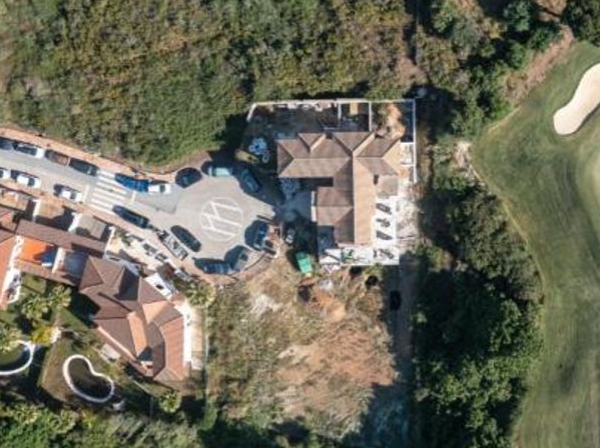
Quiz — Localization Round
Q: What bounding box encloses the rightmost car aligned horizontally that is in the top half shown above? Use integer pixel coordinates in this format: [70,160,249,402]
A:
[209,165,234,177]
